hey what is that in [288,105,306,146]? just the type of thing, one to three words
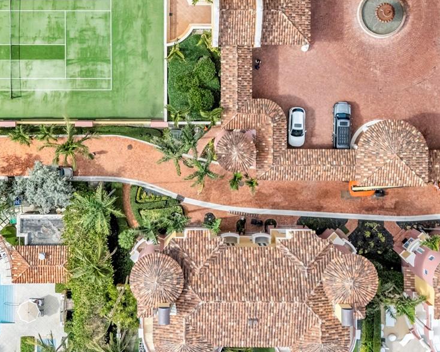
car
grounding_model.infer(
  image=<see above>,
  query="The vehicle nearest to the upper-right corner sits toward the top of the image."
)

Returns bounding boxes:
[332,101,352,148]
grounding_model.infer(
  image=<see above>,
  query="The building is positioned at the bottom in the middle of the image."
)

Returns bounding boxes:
[128,219,375,352]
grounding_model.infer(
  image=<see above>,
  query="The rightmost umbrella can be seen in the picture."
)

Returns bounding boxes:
[17,298,41,323]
